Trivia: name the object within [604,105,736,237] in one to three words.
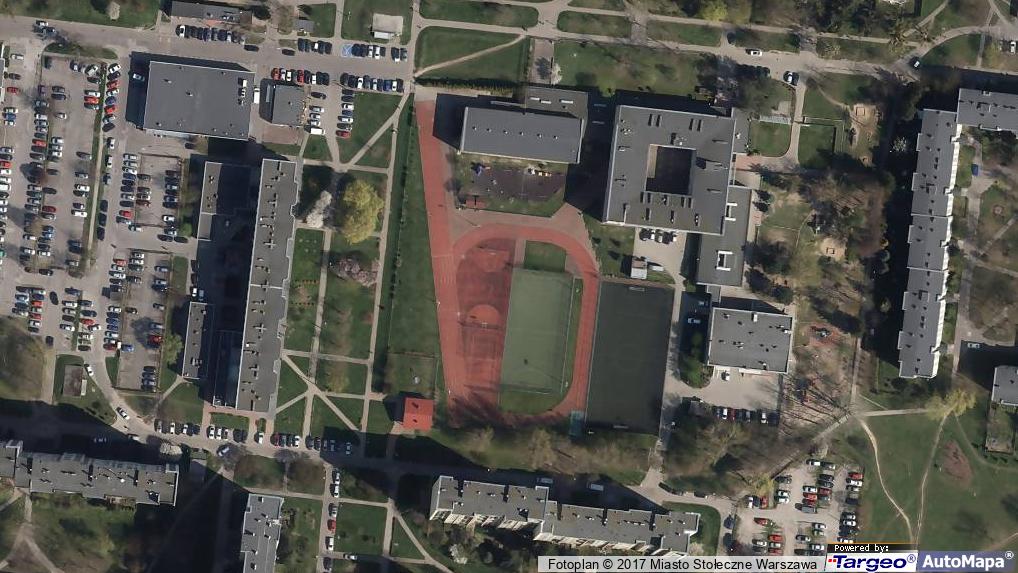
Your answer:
building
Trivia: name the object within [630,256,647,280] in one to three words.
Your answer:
shed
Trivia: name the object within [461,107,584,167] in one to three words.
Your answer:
building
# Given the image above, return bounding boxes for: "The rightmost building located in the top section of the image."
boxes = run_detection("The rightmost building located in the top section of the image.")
[955,88,1018,138]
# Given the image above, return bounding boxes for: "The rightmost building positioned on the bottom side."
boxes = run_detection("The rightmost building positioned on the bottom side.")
[987,367,1018,411]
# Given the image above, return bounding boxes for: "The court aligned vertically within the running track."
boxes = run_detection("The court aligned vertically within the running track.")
[456,239,517,412]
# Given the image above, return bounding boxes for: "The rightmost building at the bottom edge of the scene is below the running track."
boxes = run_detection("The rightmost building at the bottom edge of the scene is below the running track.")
[543,501,700,564]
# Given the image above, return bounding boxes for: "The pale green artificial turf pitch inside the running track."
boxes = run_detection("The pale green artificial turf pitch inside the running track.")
[500,268,574,392]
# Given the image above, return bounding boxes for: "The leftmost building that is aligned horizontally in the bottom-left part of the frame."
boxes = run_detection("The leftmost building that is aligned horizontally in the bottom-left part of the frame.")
[0,441,185,513]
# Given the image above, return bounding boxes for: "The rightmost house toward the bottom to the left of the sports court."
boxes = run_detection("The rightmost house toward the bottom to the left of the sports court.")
[402,398,434,432]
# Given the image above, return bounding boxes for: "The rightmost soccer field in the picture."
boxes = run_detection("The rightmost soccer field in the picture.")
[587,281,674,435]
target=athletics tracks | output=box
[415,98,598,434]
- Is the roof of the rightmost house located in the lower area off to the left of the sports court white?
No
